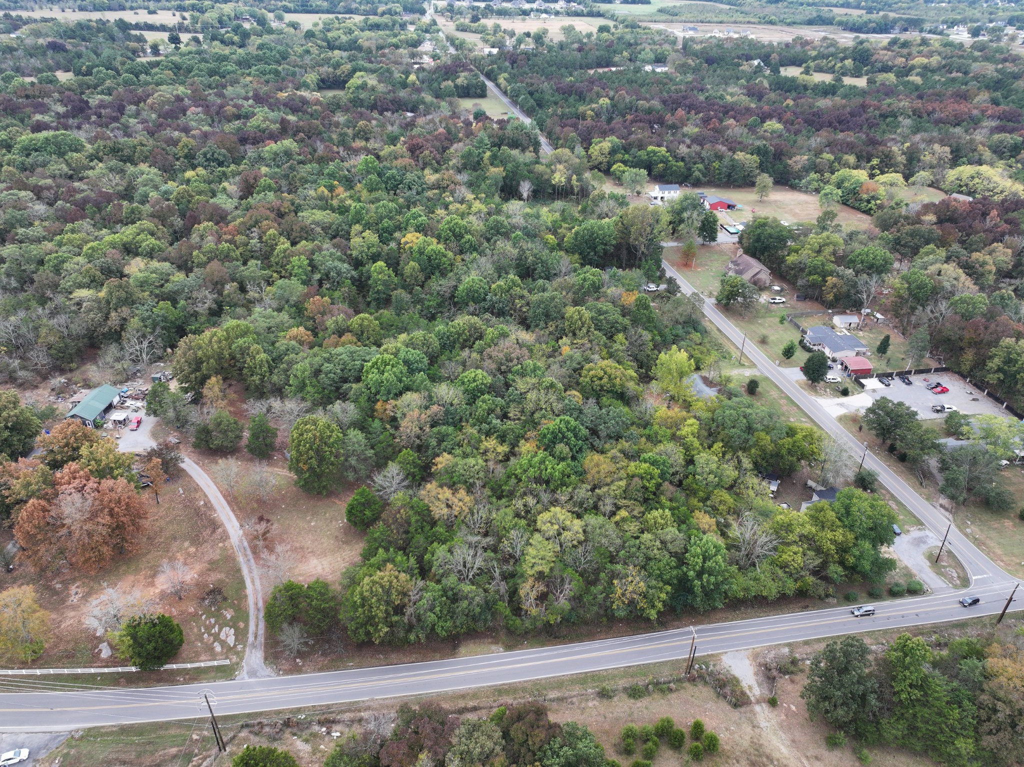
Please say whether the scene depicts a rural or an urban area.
rural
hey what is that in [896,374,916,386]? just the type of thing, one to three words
vehicle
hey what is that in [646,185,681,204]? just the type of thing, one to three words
house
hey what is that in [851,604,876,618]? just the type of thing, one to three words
car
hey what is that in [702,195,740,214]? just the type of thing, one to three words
barn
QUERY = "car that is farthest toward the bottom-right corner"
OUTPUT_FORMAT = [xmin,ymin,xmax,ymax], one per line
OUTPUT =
[957,594,982,608]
